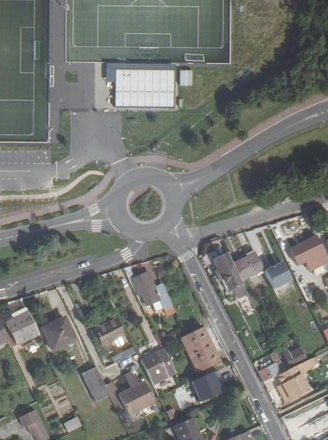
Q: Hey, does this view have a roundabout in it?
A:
Yes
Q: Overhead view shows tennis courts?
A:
No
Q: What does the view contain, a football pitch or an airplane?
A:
football pitch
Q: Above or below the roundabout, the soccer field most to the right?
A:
above it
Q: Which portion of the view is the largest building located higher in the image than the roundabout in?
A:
top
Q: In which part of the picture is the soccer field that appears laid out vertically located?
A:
top left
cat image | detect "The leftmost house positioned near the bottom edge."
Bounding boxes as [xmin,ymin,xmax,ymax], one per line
[19,409,50,440]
